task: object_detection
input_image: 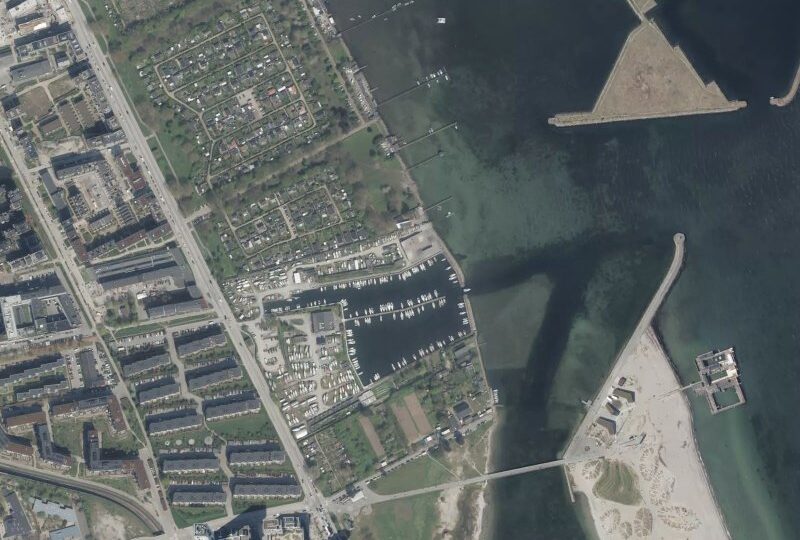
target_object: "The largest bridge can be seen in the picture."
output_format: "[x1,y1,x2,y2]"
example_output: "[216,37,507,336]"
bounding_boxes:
[483,459,568,481]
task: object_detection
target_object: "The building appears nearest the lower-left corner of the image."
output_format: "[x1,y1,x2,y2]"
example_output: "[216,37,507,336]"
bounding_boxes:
[3,492,32,538]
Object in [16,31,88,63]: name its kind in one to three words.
building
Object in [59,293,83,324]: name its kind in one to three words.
house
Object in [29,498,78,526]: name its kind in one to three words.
building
